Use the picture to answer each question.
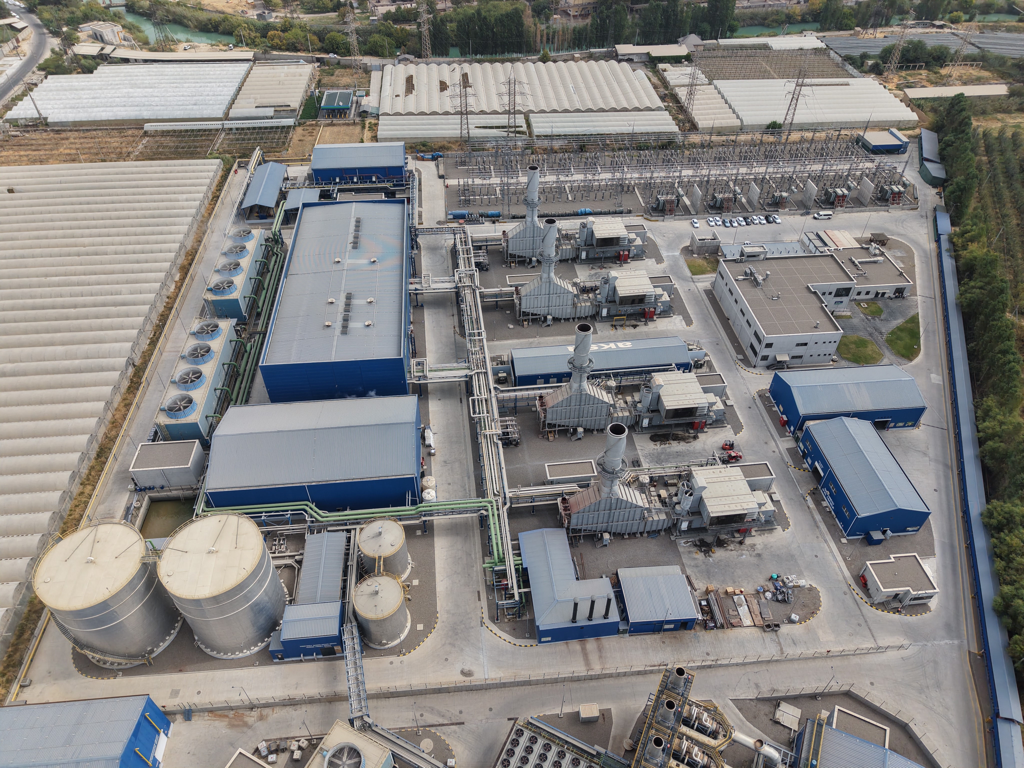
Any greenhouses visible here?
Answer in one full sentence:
Yes, this view includes a greenhouse.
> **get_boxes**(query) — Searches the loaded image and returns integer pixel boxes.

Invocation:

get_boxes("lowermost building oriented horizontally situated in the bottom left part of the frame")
[0,694,174,768]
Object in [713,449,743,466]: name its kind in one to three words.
work vehicle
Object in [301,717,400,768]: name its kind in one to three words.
cooling tower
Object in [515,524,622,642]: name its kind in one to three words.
house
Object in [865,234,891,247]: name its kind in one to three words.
gazebo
